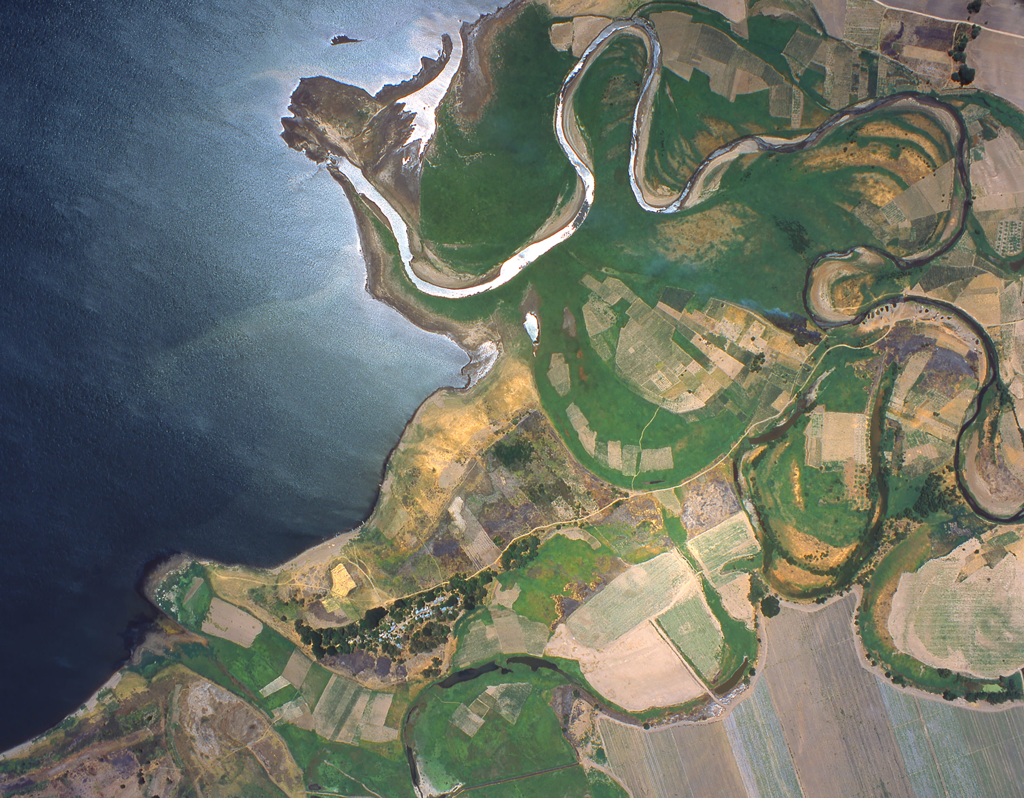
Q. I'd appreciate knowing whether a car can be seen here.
No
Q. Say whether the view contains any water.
Yes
